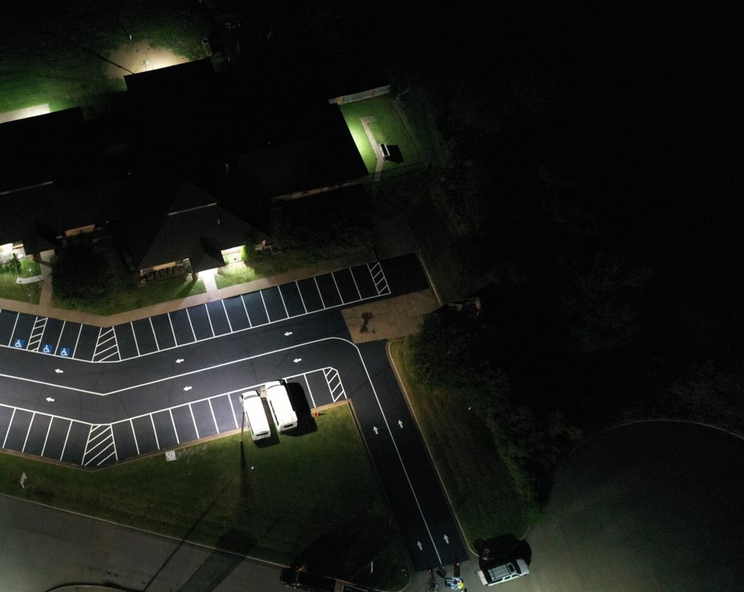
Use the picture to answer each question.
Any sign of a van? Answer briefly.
Yes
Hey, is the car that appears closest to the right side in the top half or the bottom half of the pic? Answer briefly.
bottom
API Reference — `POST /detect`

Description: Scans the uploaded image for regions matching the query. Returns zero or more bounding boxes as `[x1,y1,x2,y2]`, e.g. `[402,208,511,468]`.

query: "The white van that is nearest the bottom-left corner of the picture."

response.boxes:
[244,394,273,440]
